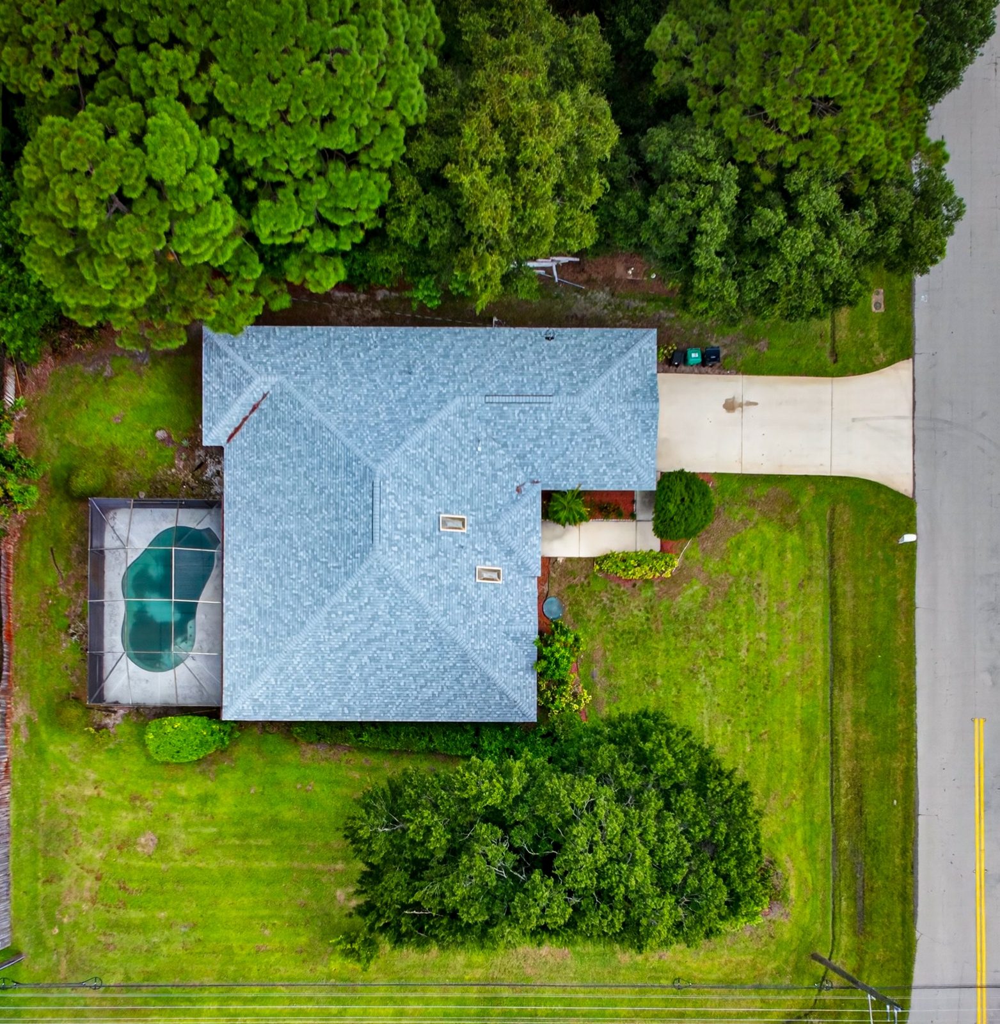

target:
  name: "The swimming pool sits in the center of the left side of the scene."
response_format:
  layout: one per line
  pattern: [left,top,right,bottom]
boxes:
[119,523,220,674]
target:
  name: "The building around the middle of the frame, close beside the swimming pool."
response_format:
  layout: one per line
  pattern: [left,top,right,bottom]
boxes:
[202,310,660,722]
